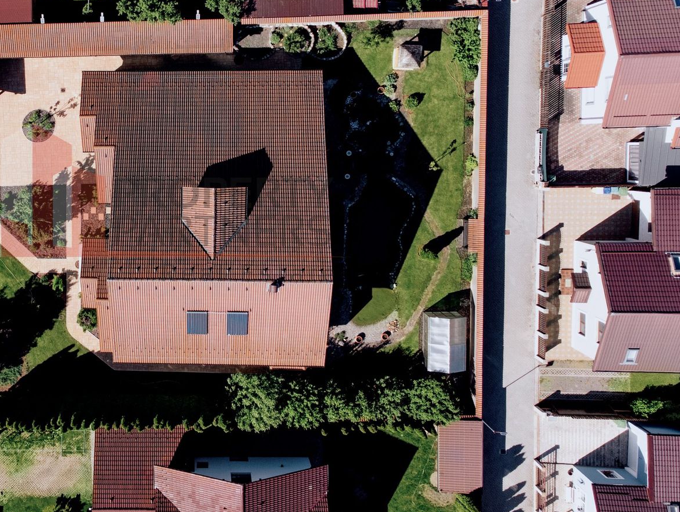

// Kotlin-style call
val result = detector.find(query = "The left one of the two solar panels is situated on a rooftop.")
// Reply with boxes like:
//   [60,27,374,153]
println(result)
[187,312,208,336]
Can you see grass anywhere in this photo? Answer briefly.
Yes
